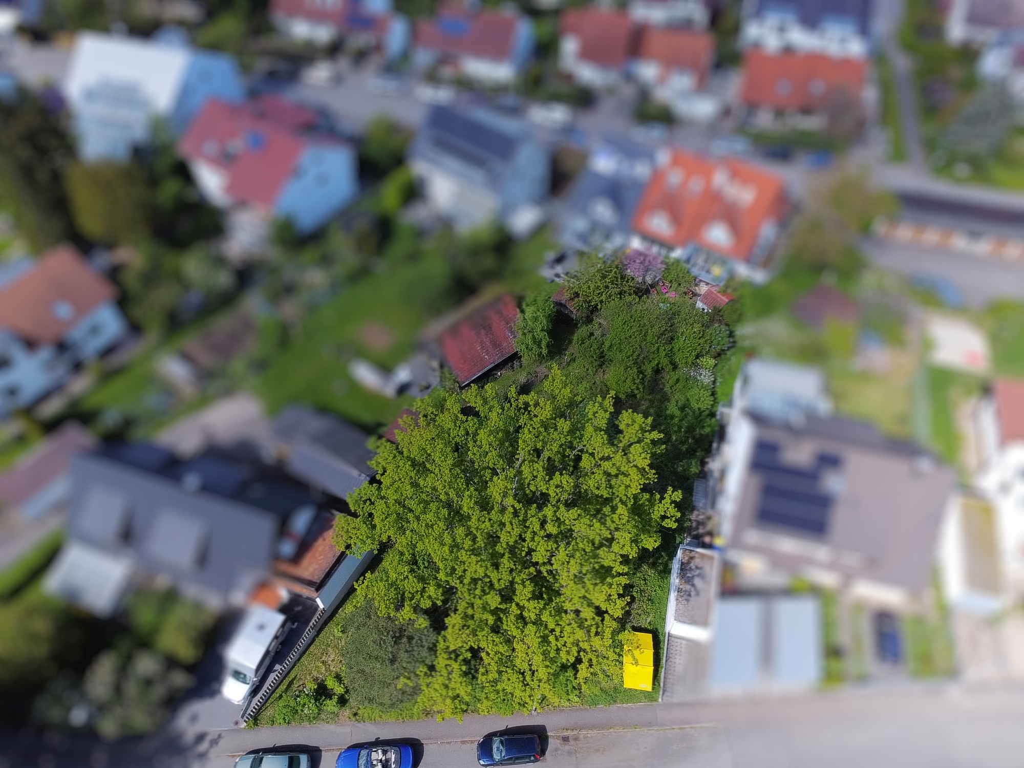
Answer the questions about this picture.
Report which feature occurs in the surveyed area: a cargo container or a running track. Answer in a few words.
cargo container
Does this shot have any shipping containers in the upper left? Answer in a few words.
No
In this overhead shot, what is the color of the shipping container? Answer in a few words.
yellow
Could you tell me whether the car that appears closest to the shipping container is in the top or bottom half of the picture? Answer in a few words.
bottom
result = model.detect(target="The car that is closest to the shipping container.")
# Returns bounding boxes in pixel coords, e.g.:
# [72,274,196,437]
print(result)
[475,733,543,768]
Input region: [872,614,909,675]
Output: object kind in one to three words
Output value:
car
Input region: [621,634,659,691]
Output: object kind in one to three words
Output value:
shipping container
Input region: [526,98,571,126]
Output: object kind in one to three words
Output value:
car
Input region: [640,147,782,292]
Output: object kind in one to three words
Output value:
house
